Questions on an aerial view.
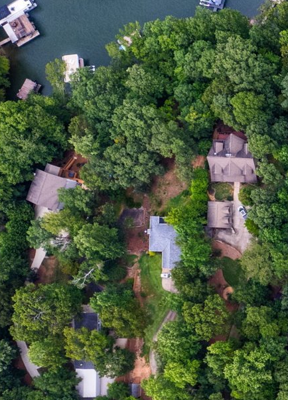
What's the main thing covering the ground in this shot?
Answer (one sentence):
For the most part, this view shows trees.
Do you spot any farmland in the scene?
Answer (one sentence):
No, there is no farmland in the image.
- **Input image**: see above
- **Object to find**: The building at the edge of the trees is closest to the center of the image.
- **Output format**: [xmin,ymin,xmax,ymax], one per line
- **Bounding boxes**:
[147,216,184,270]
